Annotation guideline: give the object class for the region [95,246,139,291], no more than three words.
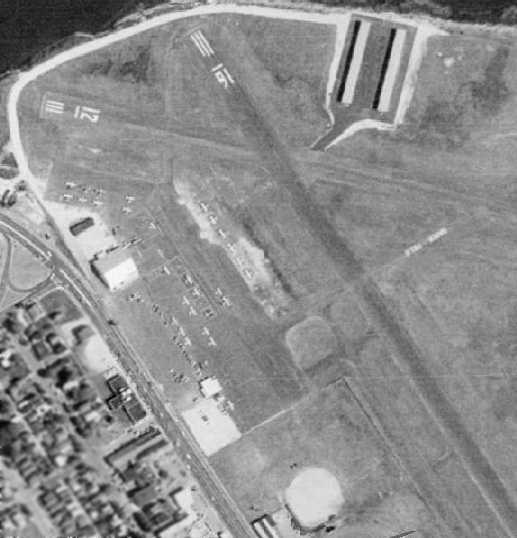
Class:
hangar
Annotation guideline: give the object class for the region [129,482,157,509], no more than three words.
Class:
building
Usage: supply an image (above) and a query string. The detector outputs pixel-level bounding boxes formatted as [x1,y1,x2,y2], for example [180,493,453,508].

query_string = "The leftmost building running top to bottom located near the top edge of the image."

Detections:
[342,24,370,105]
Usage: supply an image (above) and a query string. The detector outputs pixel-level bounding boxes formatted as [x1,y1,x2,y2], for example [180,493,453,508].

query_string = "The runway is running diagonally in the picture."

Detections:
[182,23,517,538]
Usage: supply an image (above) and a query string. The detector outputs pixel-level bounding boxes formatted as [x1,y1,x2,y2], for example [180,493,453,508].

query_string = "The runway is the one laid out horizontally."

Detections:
[39,91,517,205]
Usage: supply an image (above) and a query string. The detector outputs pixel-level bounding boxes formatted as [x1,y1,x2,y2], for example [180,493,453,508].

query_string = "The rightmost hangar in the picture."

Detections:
[378,30,406,113]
